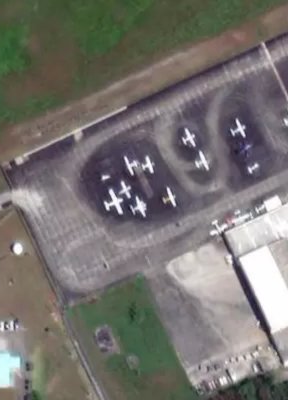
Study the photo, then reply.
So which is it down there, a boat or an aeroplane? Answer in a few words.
aeroplane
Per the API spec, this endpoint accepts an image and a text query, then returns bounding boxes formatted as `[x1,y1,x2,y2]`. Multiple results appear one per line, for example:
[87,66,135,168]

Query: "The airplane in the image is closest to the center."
[130,196,147,217]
